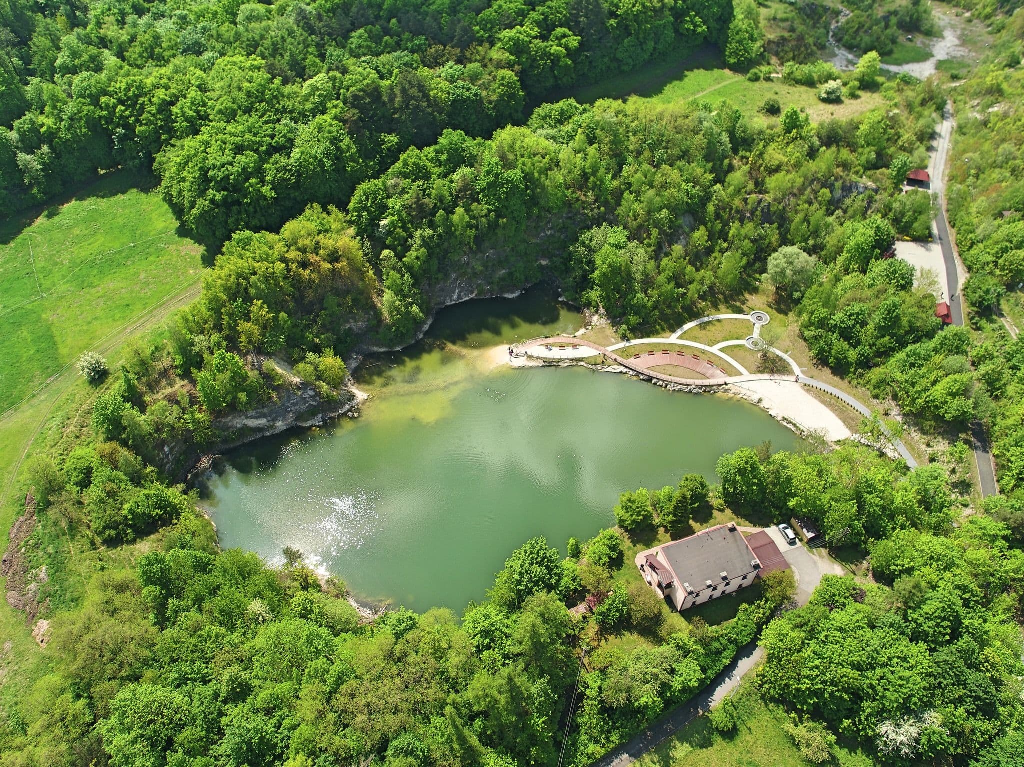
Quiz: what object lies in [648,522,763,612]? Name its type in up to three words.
house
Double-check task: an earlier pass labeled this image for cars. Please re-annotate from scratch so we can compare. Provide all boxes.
[777,524,799,546]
